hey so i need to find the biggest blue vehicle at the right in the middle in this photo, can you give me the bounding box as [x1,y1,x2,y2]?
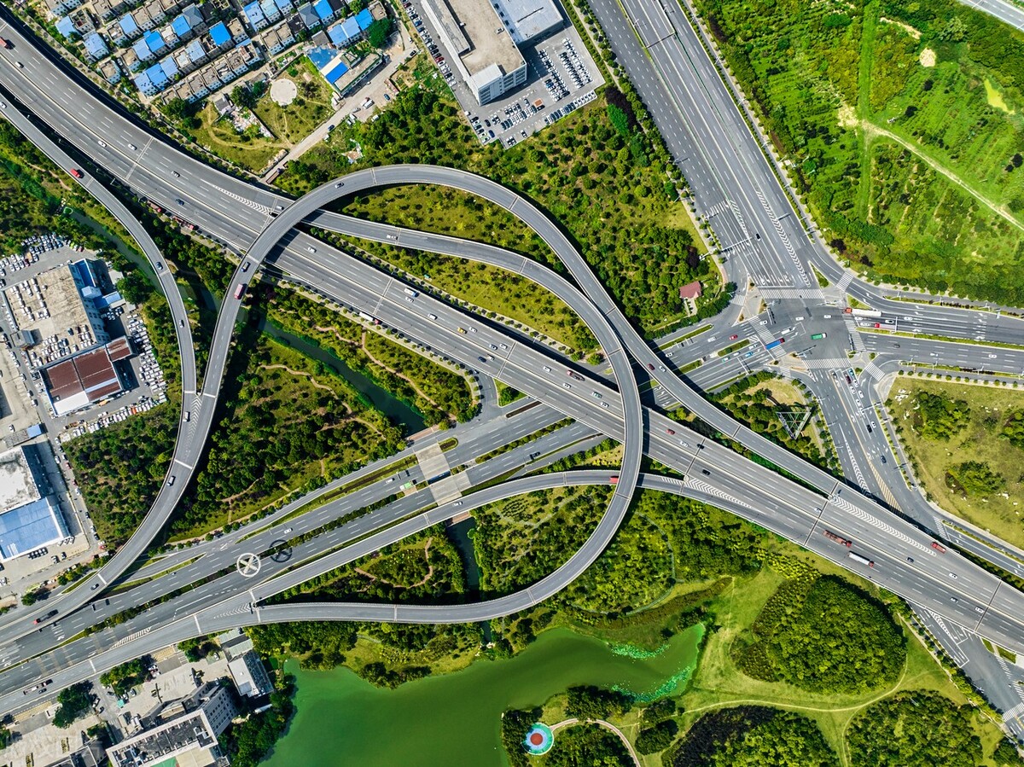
[765,337,787,349]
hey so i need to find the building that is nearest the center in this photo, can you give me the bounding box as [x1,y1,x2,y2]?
[678,281,702,299]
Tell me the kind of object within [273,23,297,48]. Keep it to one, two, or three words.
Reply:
house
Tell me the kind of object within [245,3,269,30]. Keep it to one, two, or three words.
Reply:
house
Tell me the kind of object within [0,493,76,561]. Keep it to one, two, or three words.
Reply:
building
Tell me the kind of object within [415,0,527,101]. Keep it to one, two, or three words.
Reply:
building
